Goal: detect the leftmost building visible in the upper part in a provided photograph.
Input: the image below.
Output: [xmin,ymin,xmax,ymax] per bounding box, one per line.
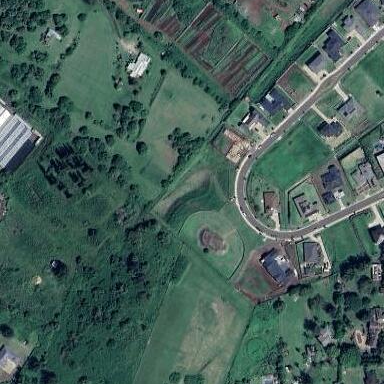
[0,107,37,175]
